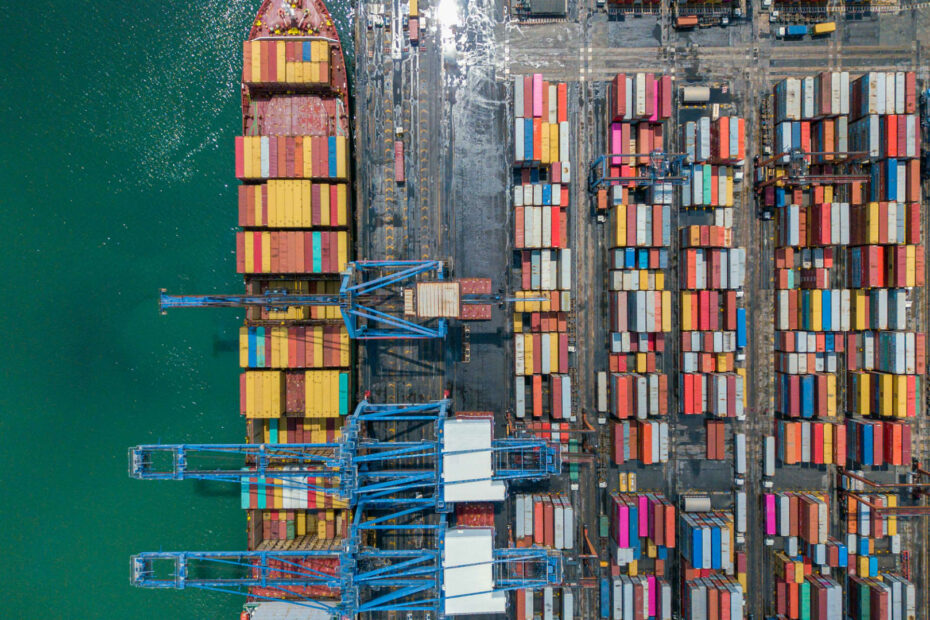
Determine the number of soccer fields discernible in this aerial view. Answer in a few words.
none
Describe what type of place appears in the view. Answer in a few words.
port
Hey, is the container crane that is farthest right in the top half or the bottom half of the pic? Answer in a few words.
bottom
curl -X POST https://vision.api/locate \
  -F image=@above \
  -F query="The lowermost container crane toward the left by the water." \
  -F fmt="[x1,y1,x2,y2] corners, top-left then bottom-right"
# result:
[125,481,561,616]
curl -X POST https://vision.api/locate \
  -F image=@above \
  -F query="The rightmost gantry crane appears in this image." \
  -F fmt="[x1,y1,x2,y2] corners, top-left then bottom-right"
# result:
[837,460,930,514]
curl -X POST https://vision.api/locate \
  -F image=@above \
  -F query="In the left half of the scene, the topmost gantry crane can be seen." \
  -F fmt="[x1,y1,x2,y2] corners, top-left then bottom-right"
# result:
[161,255,548,341]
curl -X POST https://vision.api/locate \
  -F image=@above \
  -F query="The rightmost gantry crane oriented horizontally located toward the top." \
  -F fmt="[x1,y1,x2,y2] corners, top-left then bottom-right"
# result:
[756,148,872,192]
